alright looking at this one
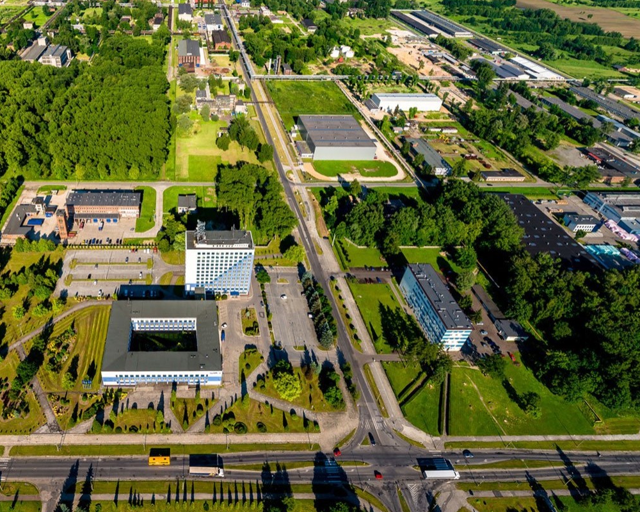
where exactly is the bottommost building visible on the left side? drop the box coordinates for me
[99,297,224,396]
